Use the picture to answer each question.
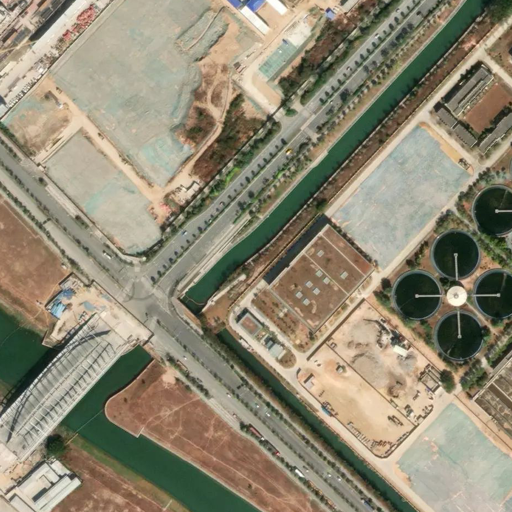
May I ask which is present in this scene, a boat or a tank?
tank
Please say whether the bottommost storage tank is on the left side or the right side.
right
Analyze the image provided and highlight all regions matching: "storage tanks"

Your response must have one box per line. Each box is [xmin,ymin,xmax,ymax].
[392,270,443,320]
[431,230,481,280]
[472,186,512,236]
[474,270,512,320]
[434,310,484,360]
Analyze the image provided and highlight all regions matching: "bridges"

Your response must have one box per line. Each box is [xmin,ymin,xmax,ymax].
[0,312,129,462]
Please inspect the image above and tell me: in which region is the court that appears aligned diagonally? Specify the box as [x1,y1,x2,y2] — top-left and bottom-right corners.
[259,37,301,79]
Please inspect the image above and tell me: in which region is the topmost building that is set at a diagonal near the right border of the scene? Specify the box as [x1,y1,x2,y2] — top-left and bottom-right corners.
[445,67,494,116]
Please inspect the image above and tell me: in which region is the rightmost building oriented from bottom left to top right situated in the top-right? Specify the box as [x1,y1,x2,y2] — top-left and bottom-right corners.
[480,115,512,154]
